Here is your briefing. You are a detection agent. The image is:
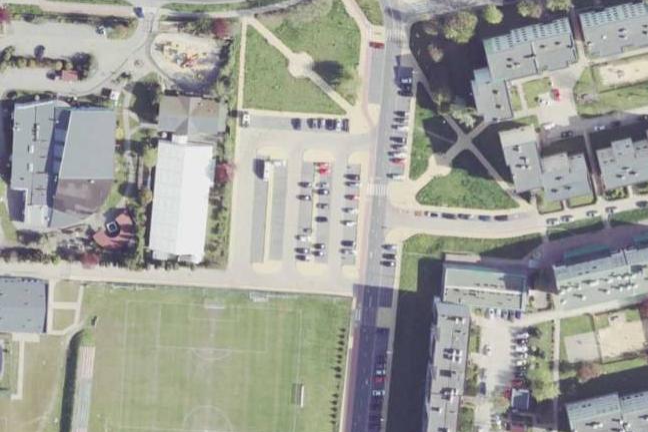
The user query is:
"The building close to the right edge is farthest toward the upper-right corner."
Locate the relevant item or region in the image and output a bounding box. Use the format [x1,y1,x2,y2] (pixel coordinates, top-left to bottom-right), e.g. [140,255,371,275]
[578,0,648,60]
